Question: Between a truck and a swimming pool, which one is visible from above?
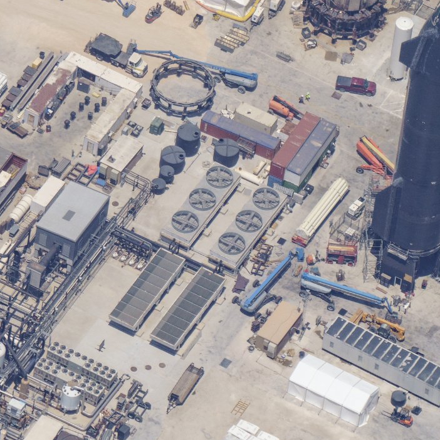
truck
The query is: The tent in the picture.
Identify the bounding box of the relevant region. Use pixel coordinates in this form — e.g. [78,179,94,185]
[284,358,378,428]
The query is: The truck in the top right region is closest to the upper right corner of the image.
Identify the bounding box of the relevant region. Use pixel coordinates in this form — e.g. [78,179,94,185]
[336,76,375,98]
